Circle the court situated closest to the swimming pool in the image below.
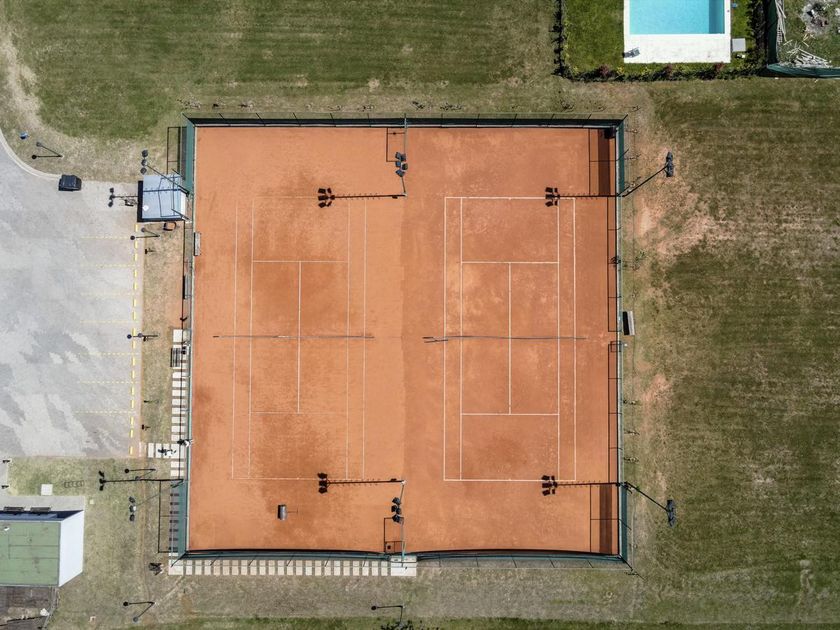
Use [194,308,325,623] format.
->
[404,128,619,553]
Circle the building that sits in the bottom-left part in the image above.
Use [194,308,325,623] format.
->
[0,511,83,590]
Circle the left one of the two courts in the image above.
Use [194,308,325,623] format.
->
[187,128,404,553]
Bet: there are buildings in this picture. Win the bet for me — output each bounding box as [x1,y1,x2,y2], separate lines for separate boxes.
[144,174,186,222]
[0,511,83,590]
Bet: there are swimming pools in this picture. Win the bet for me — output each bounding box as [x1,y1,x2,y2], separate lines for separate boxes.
[623,0,735,62]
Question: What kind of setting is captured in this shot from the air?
sports ground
